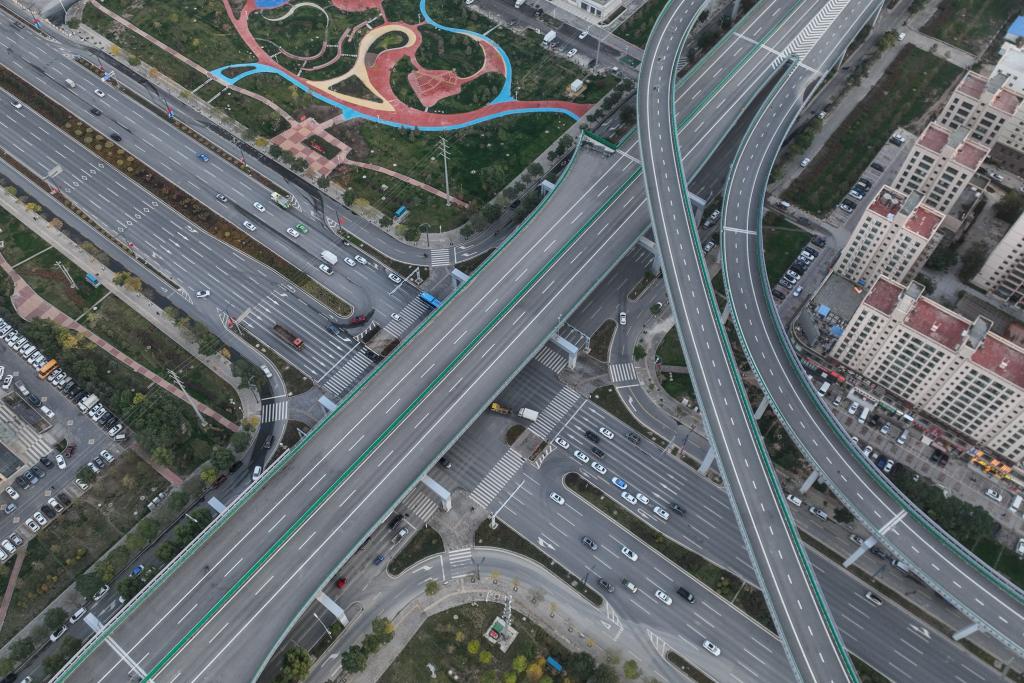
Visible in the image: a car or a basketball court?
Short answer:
car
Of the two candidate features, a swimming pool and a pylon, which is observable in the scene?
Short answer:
pylon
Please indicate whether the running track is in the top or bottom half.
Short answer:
top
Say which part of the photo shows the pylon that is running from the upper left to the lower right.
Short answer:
left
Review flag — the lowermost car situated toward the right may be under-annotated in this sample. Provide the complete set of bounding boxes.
[702,640,721,656]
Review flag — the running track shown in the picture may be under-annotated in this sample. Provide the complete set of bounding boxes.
[215,0,578,130]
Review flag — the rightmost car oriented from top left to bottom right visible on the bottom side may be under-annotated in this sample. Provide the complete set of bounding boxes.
[984,488,1003,502]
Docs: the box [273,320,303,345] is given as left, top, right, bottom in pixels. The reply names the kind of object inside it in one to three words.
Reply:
truck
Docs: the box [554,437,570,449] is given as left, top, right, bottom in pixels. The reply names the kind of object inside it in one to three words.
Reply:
vehicle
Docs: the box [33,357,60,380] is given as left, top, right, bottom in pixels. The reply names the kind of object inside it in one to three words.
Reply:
bus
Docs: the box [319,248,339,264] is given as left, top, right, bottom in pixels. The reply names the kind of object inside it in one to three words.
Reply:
vehicle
